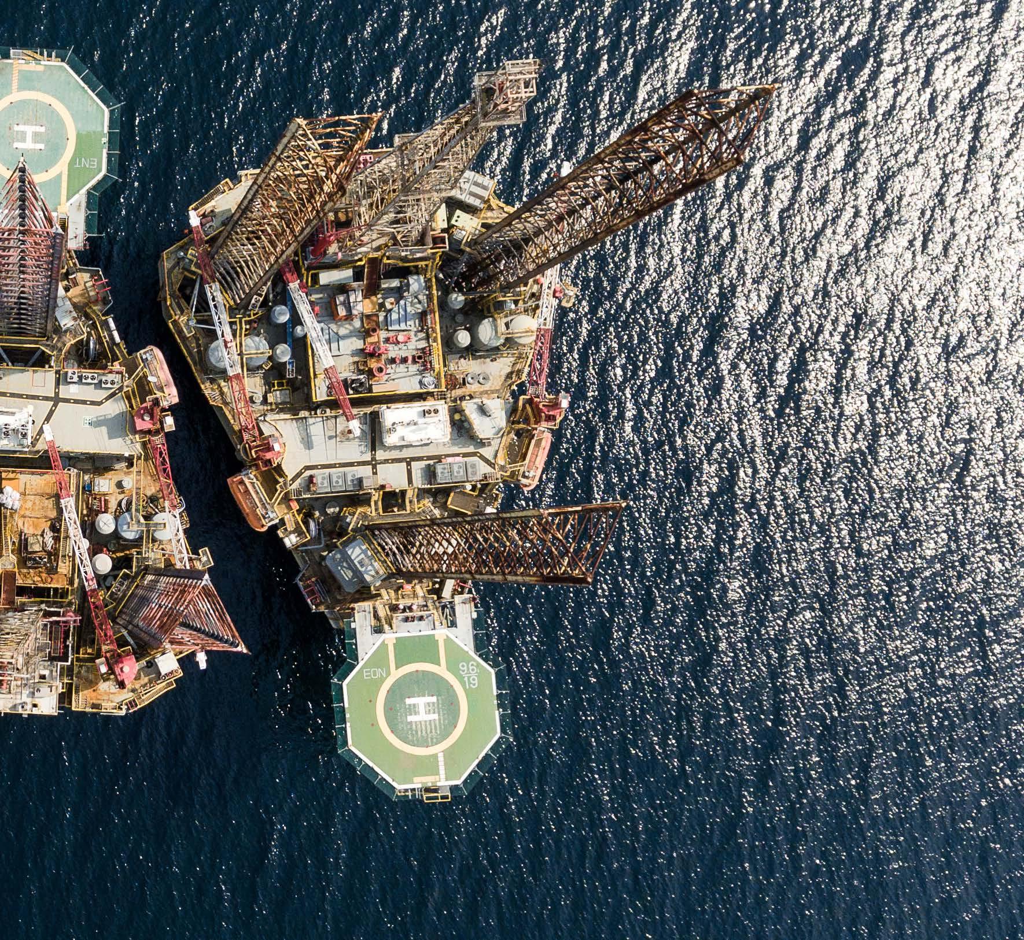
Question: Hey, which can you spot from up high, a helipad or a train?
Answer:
helipad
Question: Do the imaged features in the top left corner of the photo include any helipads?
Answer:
Yes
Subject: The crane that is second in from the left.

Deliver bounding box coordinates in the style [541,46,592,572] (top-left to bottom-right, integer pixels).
[135,399,192,565]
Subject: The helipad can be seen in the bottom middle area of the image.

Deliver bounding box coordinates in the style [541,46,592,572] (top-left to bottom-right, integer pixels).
[325,582,518,805]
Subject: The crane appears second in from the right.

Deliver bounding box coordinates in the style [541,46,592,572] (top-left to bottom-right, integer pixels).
[257,224,364,442]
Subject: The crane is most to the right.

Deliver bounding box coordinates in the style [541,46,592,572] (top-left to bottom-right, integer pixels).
[521,164,571,434]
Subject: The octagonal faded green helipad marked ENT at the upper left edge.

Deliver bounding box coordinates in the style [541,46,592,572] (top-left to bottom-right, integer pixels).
[0,44,122,275]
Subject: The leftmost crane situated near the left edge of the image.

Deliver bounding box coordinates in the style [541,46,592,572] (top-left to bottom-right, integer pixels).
[44,424,138,689]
